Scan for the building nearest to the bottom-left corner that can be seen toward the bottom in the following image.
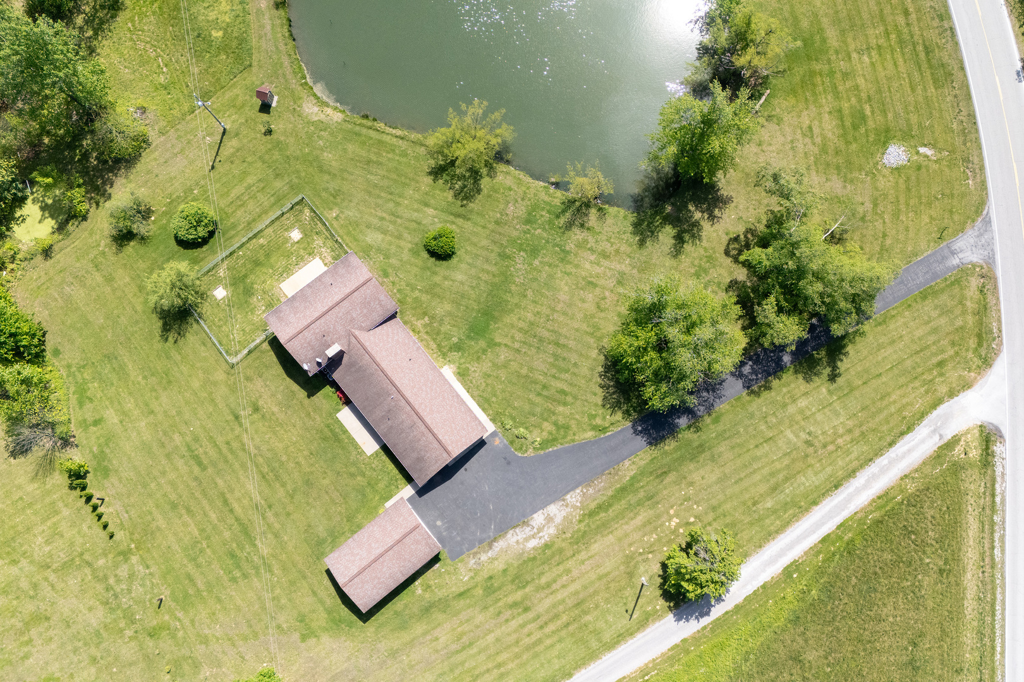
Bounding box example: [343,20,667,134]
[324,497,442,613]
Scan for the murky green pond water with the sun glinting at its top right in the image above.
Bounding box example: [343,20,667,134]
[287,0,724,212]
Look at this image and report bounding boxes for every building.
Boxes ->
[255,87,274,104]
[265,250,488,488]
[324,497,442,613]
